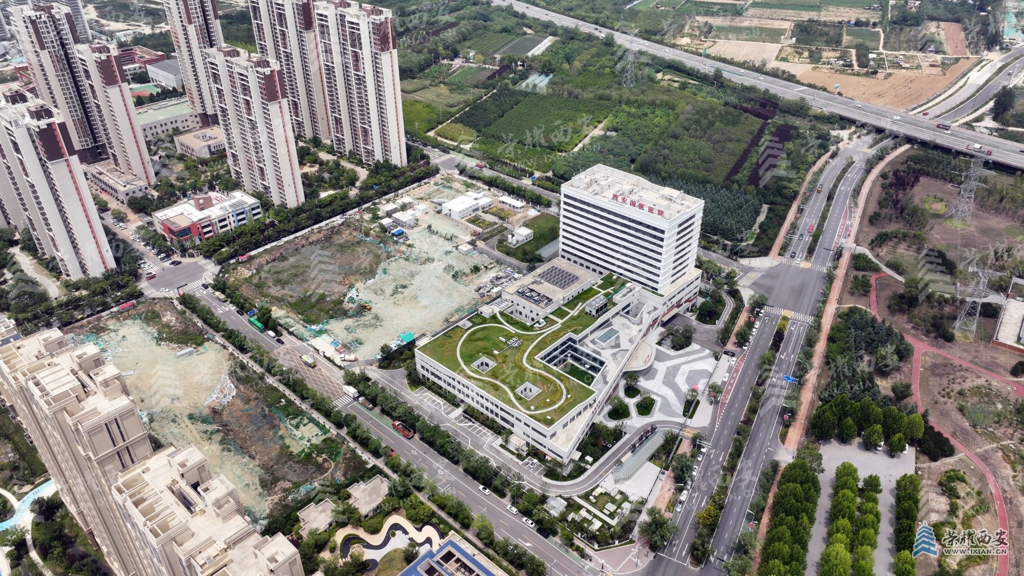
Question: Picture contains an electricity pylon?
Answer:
Yes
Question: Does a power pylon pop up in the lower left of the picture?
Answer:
No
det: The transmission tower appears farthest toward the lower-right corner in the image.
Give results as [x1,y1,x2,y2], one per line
[958,269,1001,340]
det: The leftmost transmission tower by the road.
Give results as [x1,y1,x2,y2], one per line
[624,30,637,80]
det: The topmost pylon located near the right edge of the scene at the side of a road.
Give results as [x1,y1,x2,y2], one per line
[954,150,1004,231]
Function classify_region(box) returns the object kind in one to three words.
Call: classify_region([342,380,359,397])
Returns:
vehicle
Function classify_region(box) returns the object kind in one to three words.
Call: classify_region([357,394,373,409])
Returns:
vehicle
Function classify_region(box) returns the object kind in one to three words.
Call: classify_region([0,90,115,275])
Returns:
building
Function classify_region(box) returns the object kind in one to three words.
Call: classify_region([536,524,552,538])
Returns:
car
